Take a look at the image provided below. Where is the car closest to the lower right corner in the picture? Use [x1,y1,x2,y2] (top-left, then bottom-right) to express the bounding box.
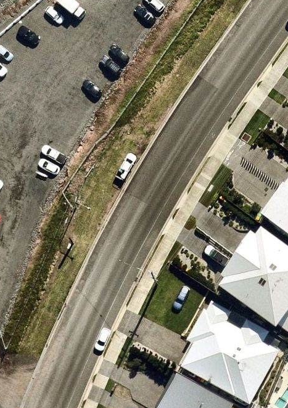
[172,285,190,311]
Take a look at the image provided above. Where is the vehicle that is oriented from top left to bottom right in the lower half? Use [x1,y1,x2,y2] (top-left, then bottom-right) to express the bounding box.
[202,246,230,269]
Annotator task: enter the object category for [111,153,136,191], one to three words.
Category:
truck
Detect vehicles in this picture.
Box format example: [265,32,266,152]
[202,246,230,269]
[143,0,167,14]
[0,44,15,64]
[44,5,66,25]
[94,327,112,355]
[80,79,103,103]
[0,62,10,79]
[132,3,157,29]
[97,53,125,80]
[53,0,88,22]
[37,157,62,178]
[172,285,190,311]
[111,153,136,191]
[15,27,40,45]
[108,43,132,67]
[40,143,68,168]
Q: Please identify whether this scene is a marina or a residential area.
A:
residential area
